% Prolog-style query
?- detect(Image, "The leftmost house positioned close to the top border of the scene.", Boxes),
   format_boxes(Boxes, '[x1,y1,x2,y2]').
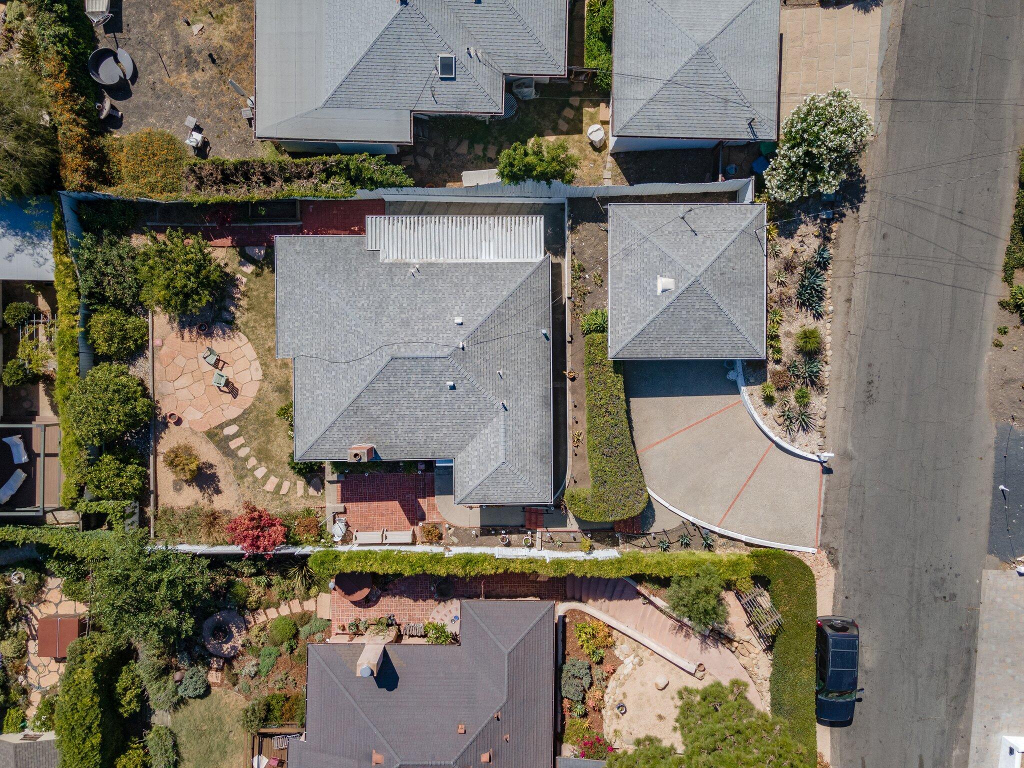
[254,0,570,158]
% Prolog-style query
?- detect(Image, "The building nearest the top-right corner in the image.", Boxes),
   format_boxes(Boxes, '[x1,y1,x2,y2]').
[609,0,781,152]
